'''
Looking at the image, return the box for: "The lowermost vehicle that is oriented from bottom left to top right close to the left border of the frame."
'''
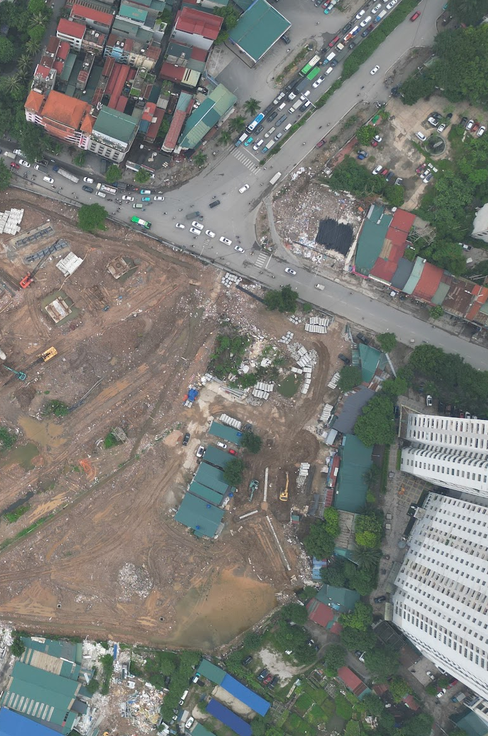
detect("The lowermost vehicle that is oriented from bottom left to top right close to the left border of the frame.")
[21,345,61,376]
